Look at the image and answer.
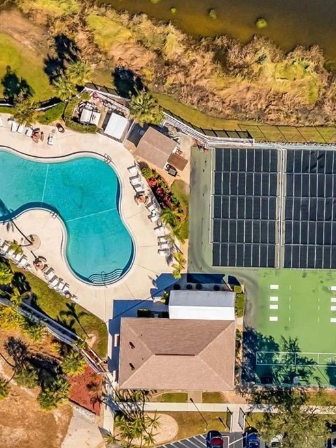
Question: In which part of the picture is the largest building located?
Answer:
bottom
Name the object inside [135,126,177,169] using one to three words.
shed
